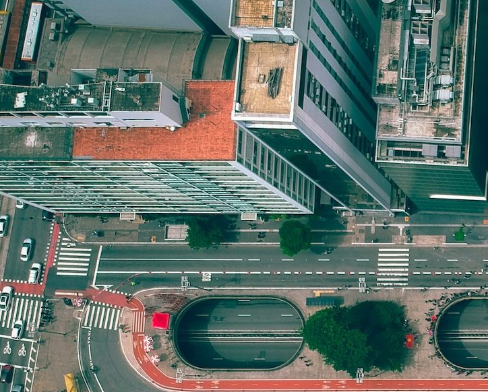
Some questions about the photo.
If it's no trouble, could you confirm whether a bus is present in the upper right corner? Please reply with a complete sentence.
No, in the upper right corner there is no bus.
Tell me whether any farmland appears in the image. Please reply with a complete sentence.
No, farmland can't be seen anywhere here.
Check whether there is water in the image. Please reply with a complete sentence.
No, the picture contains no water.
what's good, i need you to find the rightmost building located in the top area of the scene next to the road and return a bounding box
[374,0,488,214]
